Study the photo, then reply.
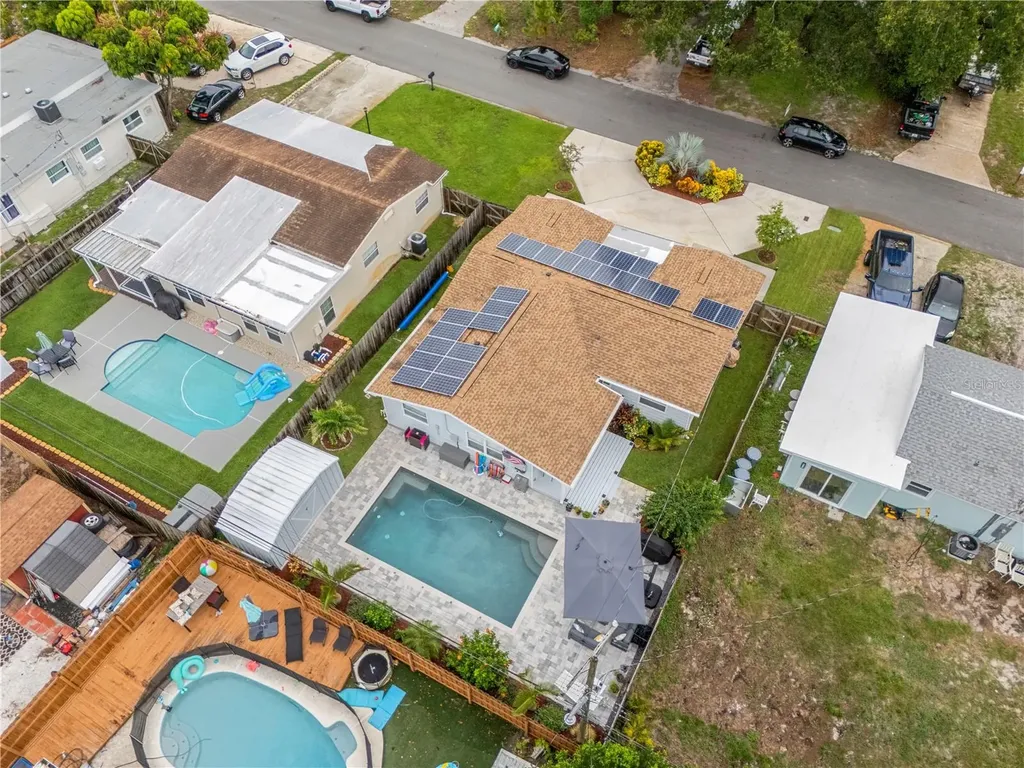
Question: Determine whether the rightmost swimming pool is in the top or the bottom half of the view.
bottom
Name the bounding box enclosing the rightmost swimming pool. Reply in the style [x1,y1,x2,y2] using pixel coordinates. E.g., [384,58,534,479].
[335,459,565,638]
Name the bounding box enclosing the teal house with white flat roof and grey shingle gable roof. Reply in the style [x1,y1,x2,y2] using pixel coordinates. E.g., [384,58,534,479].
[776,289,1024,555]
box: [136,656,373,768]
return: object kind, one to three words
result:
swimming pool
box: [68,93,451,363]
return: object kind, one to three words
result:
house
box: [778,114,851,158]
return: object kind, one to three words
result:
car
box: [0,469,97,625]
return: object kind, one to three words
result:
shed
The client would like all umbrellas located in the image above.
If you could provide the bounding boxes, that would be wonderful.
[565,518,664,626]
[26,318,50,351]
